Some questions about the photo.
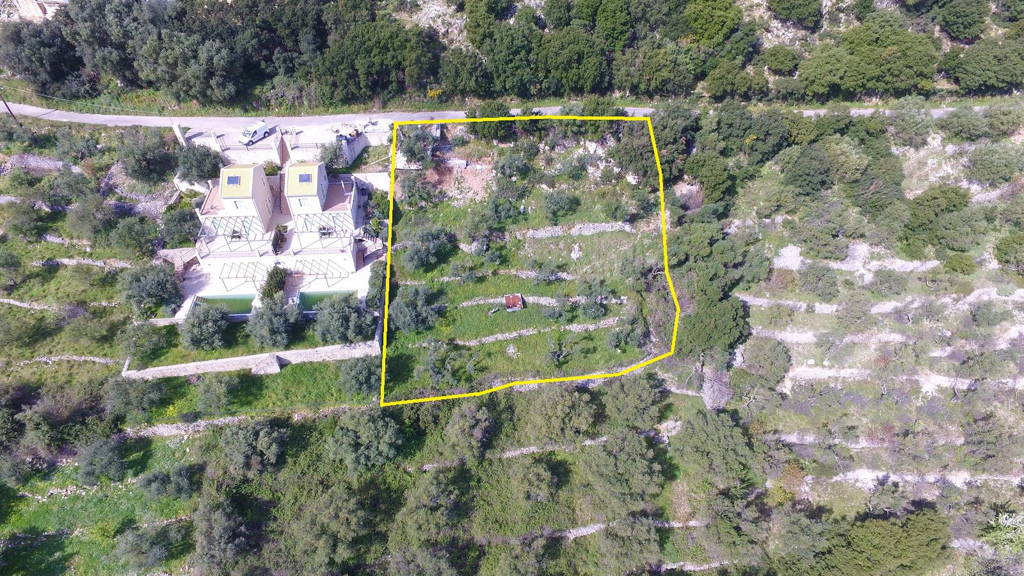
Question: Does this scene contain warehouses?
No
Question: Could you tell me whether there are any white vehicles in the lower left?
No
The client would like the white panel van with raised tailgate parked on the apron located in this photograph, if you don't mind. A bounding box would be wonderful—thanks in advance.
[234,111,271,145]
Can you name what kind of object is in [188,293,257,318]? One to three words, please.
swimming pool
